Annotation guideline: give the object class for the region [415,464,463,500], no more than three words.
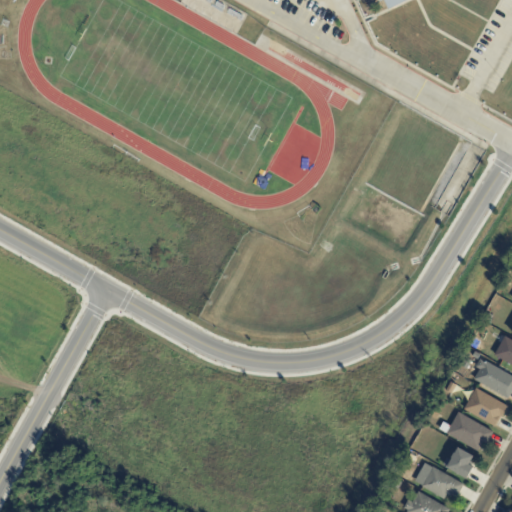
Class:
house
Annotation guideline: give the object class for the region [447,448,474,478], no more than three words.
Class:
house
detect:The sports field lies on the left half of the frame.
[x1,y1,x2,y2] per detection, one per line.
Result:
[61,0,293,182]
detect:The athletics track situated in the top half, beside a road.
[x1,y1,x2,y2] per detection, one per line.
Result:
[18,0,348,210]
